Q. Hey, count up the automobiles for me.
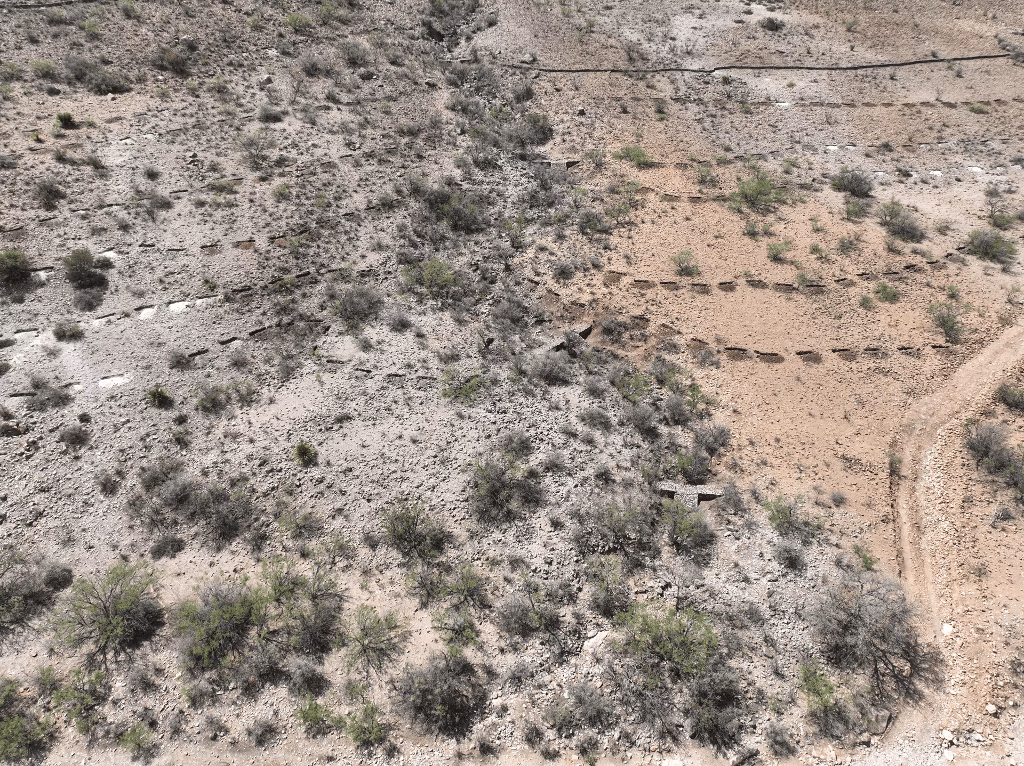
none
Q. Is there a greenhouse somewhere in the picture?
No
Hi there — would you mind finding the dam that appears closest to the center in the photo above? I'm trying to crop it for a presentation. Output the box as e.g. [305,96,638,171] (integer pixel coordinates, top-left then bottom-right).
[540,324,592,362]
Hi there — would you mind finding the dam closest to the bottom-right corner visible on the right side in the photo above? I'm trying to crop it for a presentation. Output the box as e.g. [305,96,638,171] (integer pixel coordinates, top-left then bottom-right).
[656,482,724,516]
